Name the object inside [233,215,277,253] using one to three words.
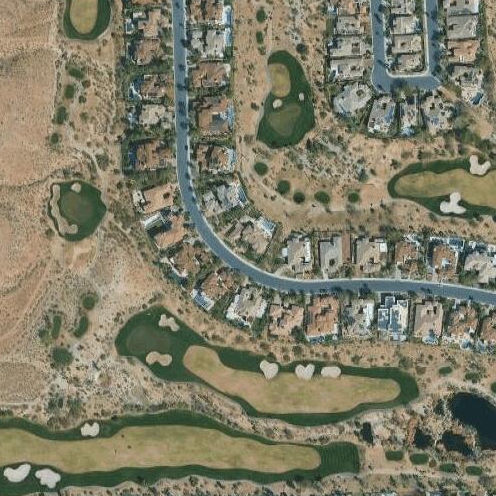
house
